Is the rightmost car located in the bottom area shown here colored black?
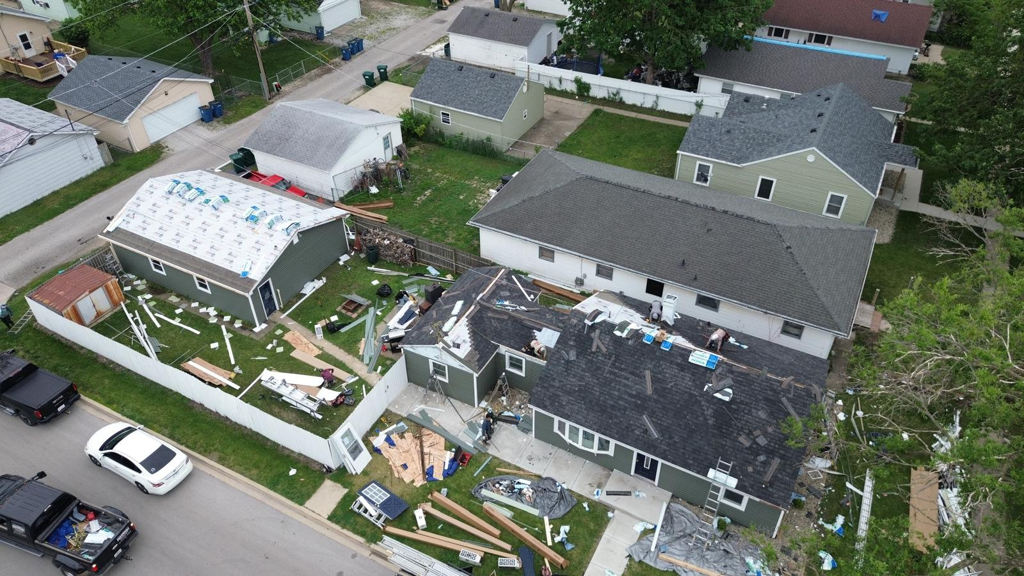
No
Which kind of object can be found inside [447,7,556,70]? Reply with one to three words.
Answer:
building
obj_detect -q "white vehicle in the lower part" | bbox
[86,430,193,502]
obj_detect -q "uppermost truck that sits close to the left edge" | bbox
[0,349,81,424]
